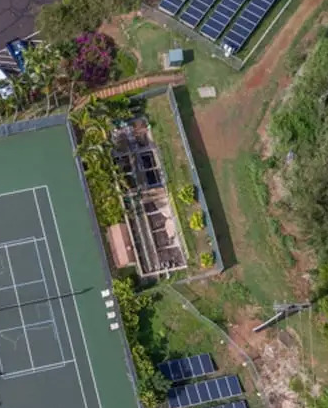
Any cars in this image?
Yes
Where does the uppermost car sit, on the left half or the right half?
left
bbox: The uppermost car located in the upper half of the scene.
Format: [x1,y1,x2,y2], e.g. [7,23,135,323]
[4,33,31,73]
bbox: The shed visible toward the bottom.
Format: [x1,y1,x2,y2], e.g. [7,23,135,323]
[106,224,135,269]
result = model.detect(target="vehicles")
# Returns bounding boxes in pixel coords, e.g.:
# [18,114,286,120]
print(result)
[4,33,31,73]
[0,70,13,100]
